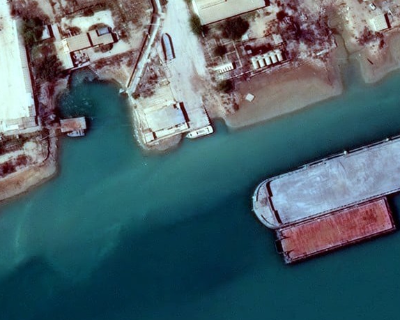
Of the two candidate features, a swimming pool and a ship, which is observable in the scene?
ship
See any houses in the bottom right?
No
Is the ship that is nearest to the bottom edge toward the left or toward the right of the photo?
right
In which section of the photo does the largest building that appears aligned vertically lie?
top left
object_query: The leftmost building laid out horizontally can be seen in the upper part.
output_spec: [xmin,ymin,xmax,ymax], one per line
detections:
[2,117,38,131]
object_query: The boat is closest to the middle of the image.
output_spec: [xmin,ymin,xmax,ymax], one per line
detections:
[187,123,214,139]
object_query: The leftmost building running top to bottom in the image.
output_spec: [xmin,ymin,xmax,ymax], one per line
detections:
[12,22,37,120]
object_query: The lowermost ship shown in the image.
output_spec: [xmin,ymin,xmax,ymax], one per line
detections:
[276,196,397,262]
